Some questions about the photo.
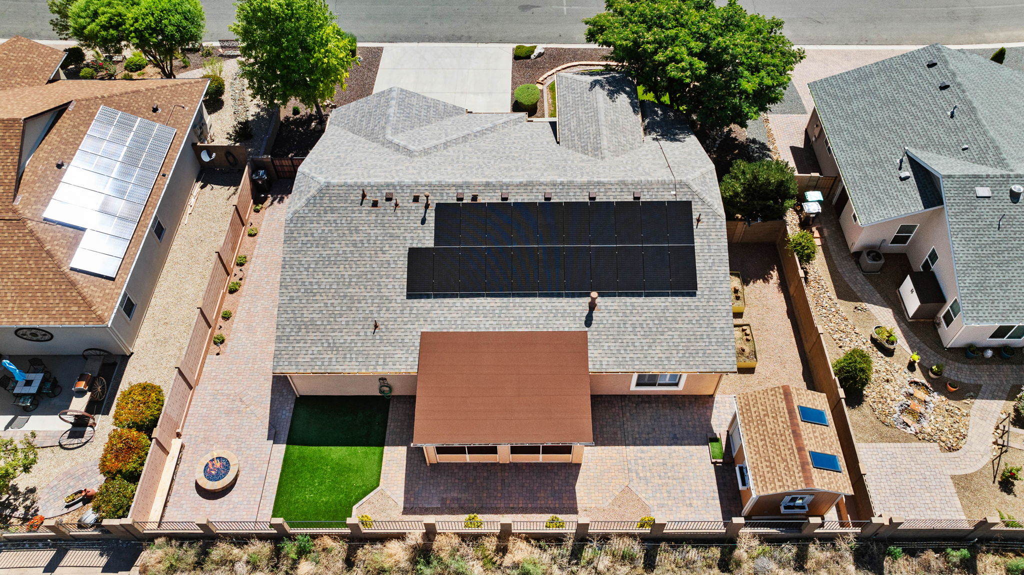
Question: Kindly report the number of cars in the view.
0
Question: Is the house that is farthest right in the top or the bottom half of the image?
top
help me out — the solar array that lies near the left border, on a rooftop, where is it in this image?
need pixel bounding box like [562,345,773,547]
[39,108,177,277]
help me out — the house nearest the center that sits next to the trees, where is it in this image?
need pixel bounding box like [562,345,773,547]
[273,72,737,466]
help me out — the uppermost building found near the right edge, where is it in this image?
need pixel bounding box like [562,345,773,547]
[803,45,1024,350]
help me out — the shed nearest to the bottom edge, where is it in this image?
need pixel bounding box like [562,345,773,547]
[725,386,855,517]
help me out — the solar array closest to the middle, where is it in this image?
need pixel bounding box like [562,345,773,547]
[406,202,695,301]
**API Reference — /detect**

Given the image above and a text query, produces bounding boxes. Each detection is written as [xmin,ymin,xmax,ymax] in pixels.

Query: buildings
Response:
[273,72,737,466]
[0,36,223,356]
[803,45,1024,350]
[725,386,855,517]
